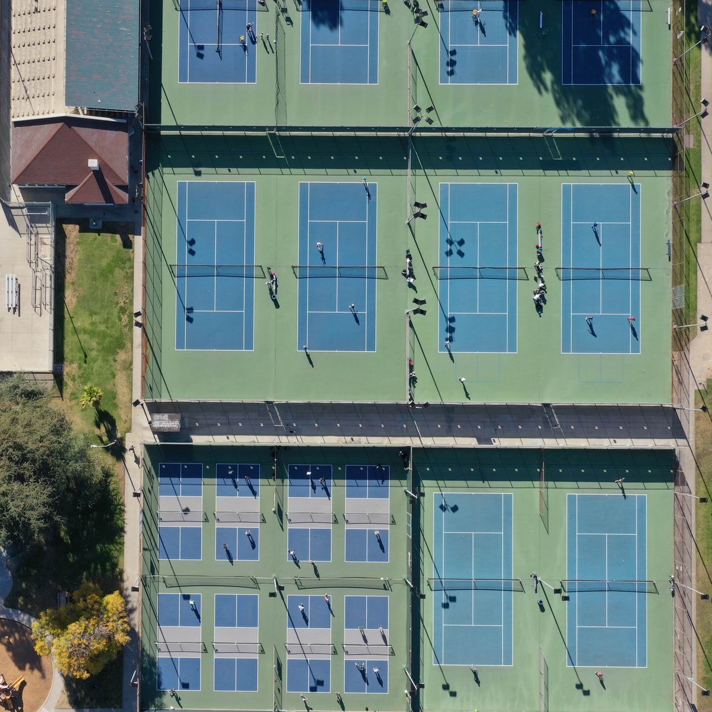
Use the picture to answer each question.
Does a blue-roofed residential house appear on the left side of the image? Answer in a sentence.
No, there's no blue-roofed residential house to be seen on the left side of the image.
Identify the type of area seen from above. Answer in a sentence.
The area seen from above is a sports ground.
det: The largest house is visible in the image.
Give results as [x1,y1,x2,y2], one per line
[12,120,129,203]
